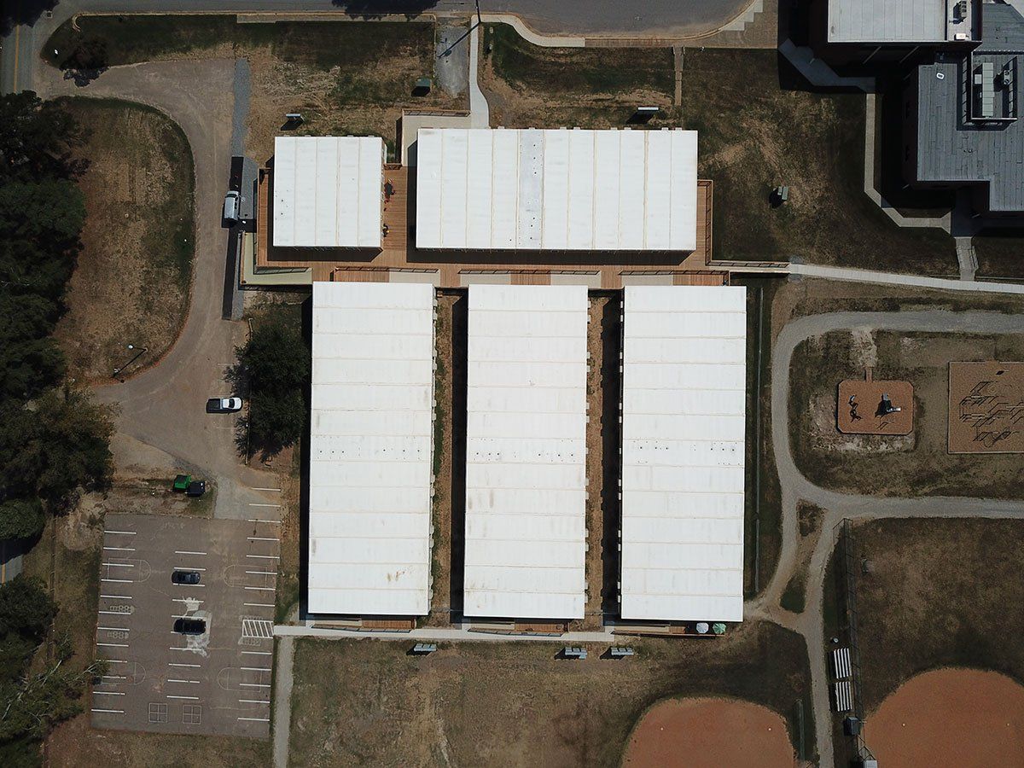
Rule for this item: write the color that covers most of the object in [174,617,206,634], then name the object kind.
black car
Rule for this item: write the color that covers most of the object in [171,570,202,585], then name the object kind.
black car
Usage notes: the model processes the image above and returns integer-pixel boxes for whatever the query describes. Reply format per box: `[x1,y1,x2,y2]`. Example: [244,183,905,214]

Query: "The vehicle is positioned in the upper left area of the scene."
[222,190,239,222]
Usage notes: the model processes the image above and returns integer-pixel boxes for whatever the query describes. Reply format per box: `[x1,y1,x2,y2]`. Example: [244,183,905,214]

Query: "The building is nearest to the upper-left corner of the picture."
[273,133,385,252]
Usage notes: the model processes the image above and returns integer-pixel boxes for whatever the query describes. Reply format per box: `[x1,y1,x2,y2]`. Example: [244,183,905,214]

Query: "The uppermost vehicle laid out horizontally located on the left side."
[205,396,243,412]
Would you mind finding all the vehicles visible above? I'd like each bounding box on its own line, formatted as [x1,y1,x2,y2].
[171,570,202,585]
[205,396,243,412]
[222,190,239,222]
[174,617,206,634]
